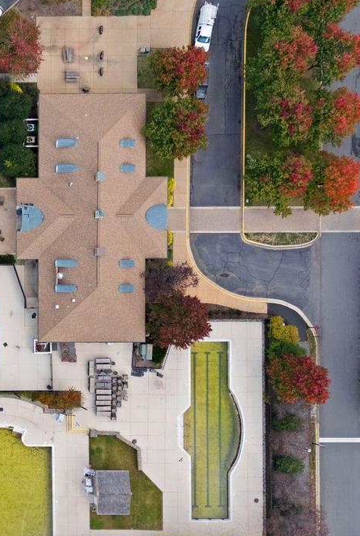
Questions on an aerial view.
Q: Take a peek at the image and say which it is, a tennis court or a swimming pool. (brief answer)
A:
swimming pool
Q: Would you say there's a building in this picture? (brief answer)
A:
Yes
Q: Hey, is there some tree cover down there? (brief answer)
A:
Yes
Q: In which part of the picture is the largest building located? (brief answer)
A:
left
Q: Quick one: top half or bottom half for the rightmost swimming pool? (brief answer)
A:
bottom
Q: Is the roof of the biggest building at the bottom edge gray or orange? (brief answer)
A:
gray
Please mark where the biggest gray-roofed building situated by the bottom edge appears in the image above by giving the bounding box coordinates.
[87,469,132,514]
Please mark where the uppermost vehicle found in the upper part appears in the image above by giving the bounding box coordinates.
[193,0,219,53]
